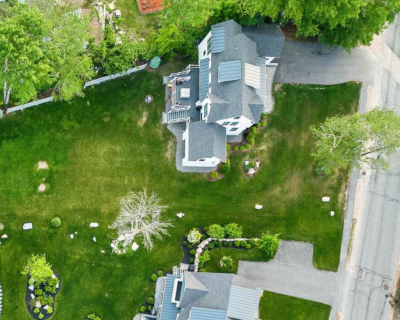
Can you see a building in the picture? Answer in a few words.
Yes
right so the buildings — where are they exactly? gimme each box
[161,18,291,164]
[142,267,263,320]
